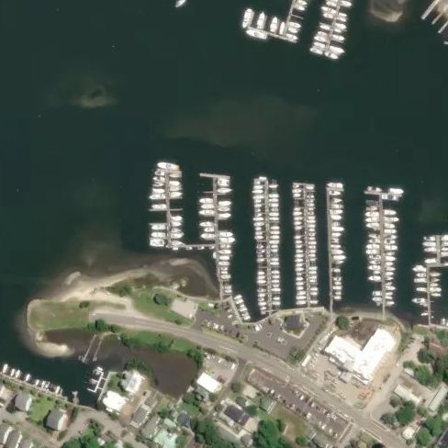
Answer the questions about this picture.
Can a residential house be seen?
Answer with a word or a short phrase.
Yes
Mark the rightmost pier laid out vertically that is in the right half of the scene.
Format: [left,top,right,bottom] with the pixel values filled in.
[415,234,448,323]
